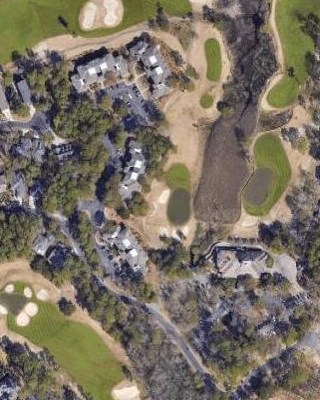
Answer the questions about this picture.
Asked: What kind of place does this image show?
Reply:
golf course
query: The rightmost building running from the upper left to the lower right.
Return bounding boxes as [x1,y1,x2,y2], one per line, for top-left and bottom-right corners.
[128,42,174,99]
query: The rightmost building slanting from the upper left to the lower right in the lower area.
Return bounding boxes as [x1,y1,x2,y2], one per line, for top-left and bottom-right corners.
[102,229,153,281]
